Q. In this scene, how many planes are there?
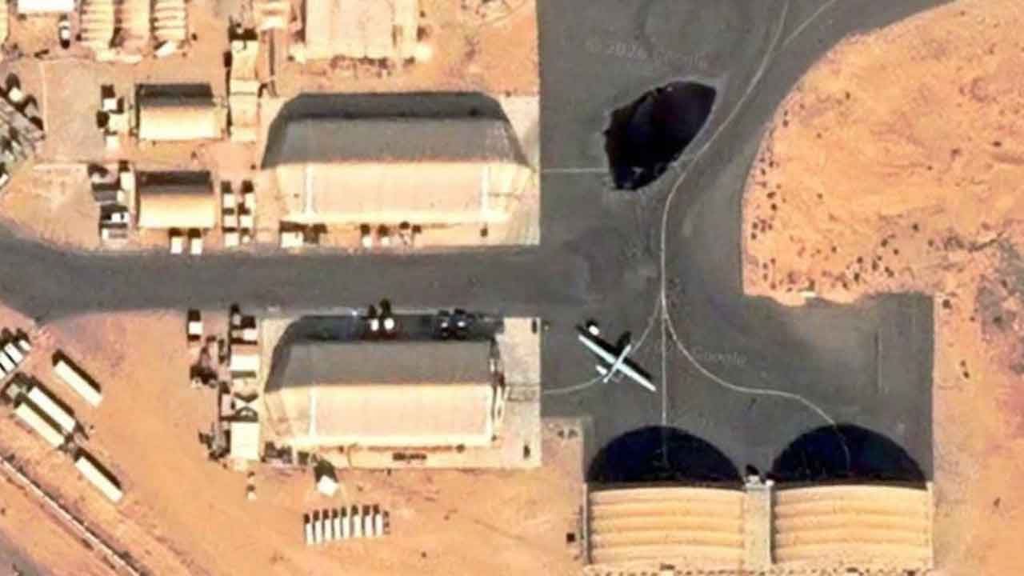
1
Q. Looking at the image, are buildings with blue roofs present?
No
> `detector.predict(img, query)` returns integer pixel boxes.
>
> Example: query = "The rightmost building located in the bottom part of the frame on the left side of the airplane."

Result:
[262,335,505,449]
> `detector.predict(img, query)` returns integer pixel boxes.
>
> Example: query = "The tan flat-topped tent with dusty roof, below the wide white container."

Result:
[231,378,258,395]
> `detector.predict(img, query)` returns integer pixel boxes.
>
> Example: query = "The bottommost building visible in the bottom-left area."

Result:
[230,423,259,462]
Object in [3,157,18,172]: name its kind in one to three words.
vehicle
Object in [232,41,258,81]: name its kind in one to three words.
building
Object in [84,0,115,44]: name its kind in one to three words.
tent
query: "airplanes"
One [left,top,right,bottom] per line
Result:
[578,335,657,391]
